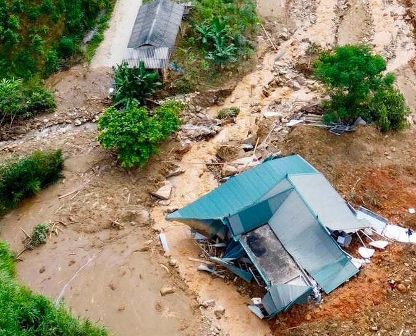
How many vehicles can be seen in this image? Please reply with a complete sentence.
Not a single vehicle can be seen.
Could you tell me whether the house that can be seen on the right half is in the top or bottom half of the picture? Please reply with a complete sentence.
The house that can be seen on the right half is in the bottom half of the image.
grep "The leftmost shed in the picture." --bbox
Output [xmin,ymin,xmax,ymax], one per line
[117,0,185,85]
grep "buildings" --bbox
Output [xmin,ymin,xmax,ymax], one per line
[166,154,381,319]
[117,0,185,85]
